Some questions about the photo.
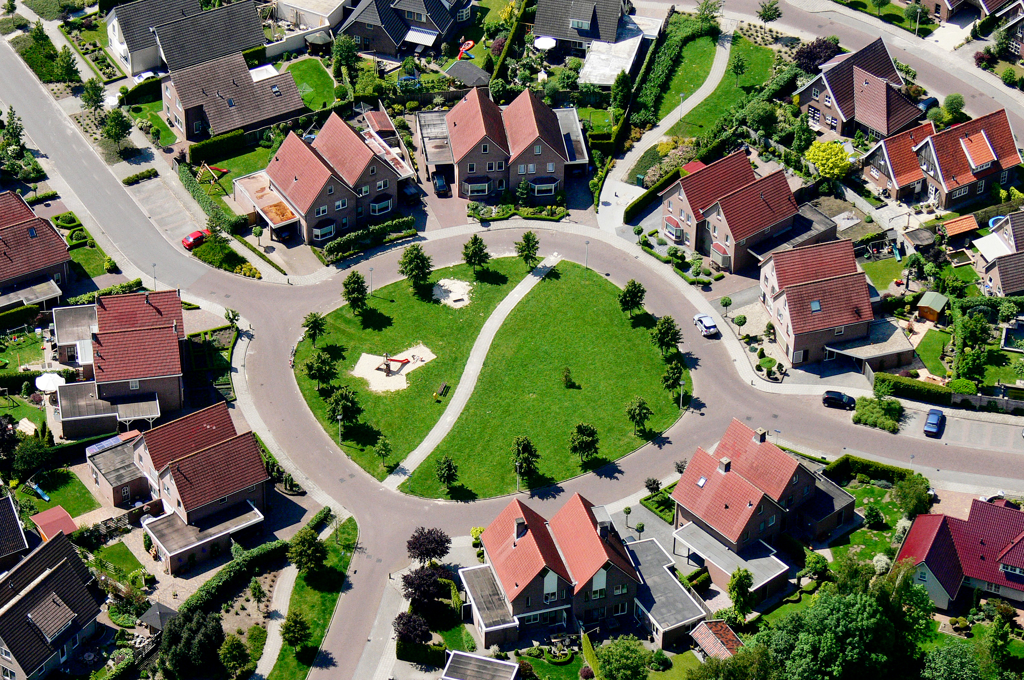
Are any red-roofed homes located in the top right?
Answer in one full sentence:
Yes, a red-roofed home shows up in the top right.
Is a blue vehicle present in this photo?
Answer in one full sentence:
Yes, the picture does show a blue vehicle.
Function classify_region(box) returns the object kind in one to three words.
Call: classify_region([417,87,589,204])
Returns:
house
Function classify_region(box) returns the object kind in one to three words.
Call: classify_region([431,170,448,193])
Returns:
car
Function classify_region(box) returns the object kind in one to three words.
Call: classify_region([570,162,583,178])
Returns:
vehicle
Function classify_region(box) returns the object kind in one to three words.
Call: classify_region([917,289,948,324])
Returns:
shed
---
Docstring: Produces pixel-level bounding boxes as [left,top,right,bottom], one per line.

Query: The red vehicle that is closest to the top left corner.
[181,230,213,248]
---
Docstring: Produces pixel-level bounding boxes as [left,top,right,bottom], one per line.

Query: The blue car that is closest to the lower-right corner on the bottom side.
[924,409,943,436]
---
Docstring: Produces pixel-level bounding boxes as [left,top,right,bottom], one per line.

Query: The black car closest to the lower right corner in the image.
[822,394,855,412]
